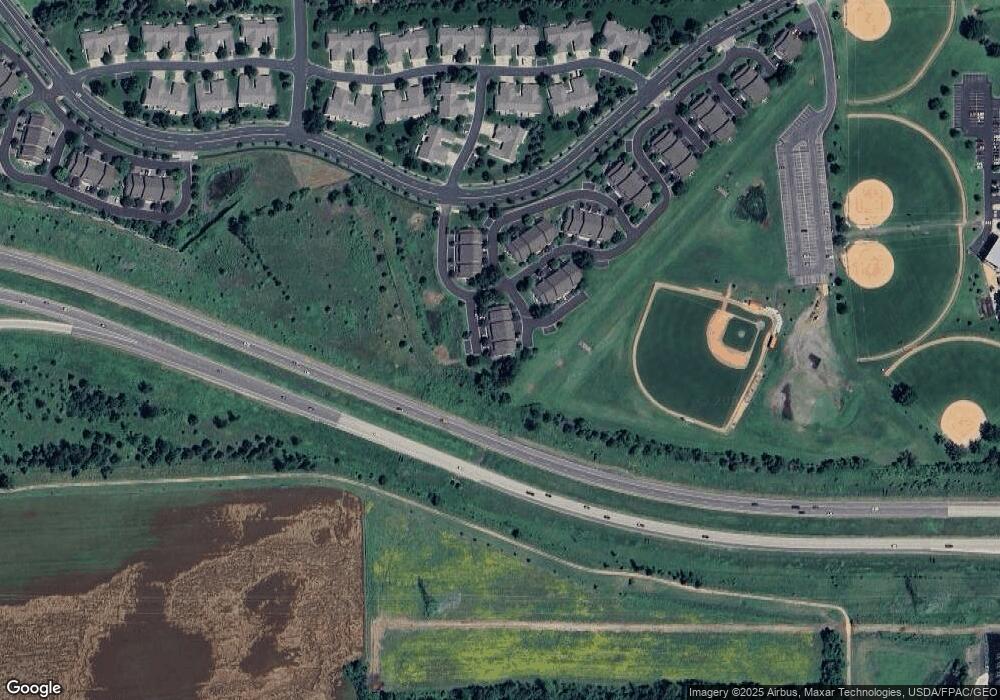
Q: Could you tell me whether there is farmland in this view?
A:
Yes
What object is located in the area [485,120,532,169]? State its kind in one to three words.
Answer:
house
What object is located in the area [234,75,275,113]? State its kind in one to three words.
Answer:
house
